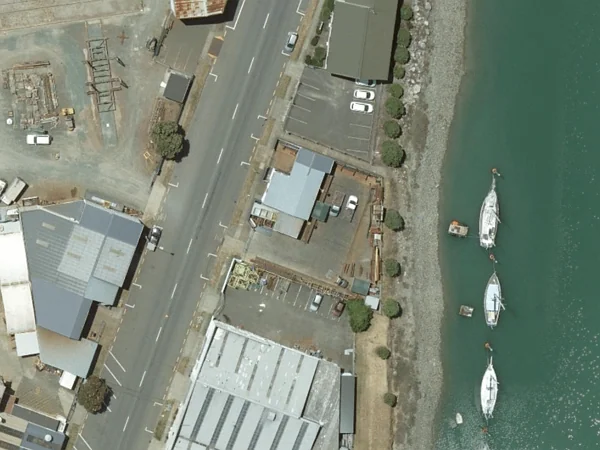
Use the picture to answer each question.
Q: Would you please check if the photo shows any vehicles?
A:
Yes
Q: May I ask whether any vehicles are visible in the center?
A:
Yes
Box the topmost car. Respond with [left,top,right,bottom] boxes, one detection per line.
[283,33,297,54]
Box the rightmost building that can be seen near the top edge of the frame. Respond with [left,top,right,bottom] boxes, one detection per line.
[330,0,398,80]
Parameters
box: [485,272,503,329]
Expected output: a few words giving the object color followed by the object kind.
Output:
white boat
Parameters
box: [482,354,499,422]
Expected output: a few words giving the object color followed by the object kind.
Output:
white boat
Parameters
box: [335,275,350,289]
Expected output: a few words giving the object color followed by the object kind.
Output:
gray vehicle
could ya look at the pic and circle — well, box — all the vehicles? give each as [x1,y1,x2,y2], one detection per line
[335,275,350,289]
[343,193,359,220]
[331,298,346,320]
[145,224,162,251]
[0,174,30,206]
[26,134,51,145]
[283,33,297,54]
[350,102,373,112]
[356,79,376,88]
[353,90,374,100]
[329,187,349,214]
[309,291,324,314]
